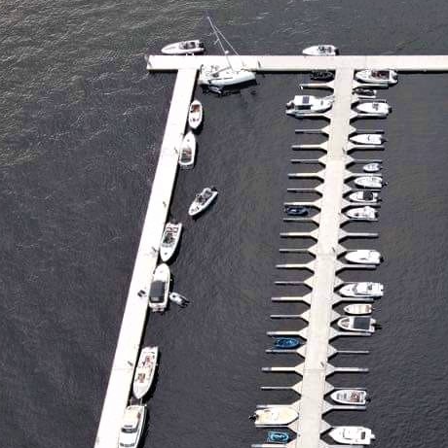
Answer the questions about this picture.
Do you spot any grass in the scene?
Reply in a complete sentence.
No, the picture contains no grass.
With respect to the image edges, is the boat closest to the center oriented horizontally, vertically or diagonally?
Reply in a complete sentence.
In this picture, the boat closest to the center is oriented diagonally.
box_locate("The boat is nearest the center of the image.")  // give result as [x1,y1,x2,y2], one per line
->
[188,188,217,214]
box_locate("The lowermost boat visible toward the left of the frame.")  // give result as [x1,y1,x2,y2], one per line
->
[119,401,153,448]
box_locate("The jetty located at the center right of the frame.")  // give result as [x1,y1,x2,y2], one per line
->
[297,69,355,448]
